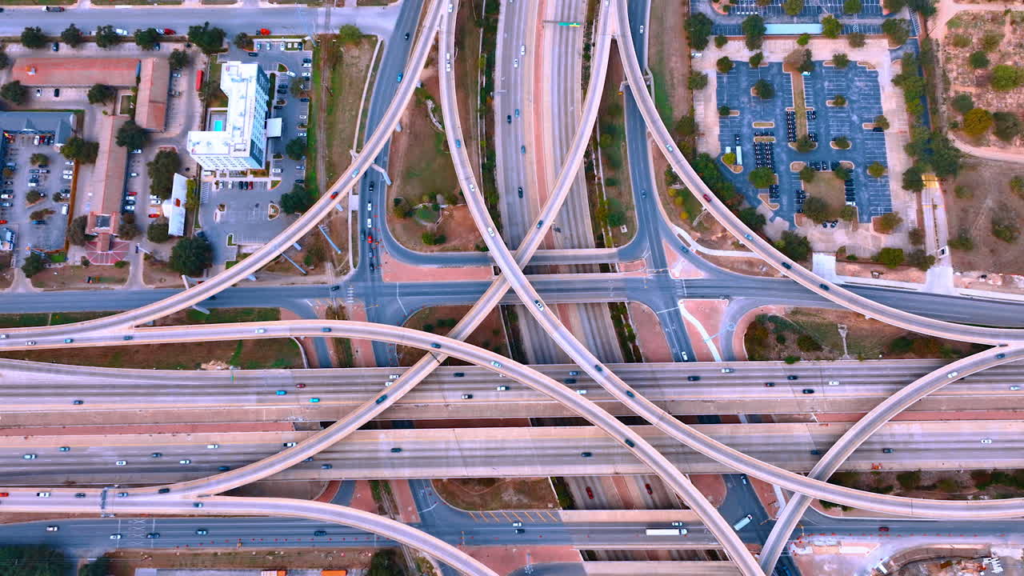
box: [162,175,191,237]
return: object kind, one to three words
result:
building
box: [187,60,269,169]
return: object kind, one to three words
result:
building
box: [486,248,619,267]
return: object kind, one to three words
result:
bridge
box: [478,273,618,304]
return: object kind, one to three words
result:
overpass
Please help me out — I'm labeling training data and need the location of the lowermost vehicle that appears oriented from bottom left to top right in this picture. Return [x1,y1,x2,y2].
[735,513,753,531]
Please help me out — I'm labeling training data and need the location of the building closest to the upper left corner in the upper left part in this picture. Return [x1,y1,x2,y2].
[0,112,78,189]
